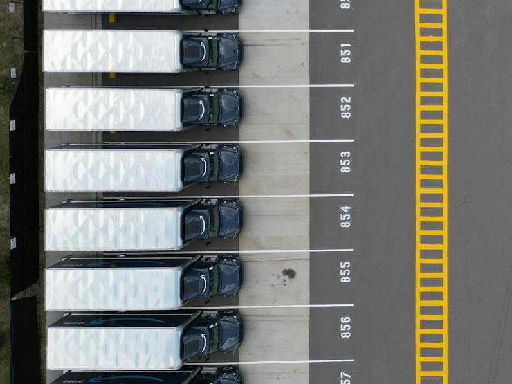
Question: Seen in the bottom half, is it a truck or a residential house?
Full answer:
Visible in the bottom half is a truck.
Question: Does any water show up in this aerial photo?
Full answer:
No, water can't be seen anywhere here.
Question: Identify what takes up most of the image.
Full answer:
What you mostly see from above here is paved ground.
